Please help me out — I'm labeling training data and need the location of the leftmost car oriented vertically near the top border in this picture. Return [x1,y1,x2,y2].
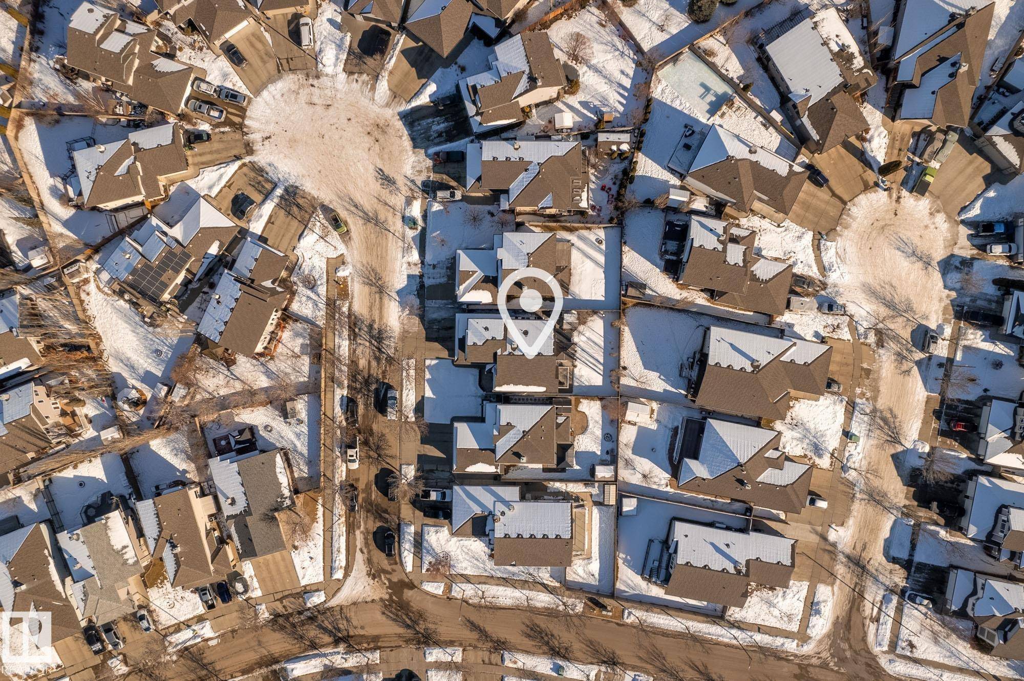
[296,15,314,49]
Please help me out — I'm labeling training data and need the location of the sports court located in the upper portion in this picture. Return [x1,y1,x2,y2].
[657,49,734,122]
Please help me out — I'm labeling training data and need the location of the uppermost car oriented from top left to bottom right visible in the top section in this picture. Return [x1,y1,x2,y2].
[225,41,249,68]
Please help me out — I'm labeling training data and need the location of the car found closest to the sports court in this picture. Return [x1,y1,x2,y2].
[807,163,831,187]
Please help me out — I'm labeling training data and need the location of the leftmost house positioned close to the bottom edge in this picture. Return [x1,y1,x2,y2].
[0,521,89,652]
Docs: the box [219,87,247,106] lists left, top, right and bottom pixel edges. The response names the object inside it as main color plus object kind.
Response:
gray car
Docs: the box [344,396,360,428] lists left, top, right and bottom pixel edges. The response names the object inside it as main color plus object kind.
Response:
black vehicle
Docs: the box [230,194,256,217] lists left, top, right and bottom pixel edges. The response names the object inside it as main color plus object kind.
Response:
black car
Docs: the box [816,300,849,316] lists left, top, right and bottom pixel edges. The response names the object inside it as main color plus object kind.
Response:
gray vehicle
